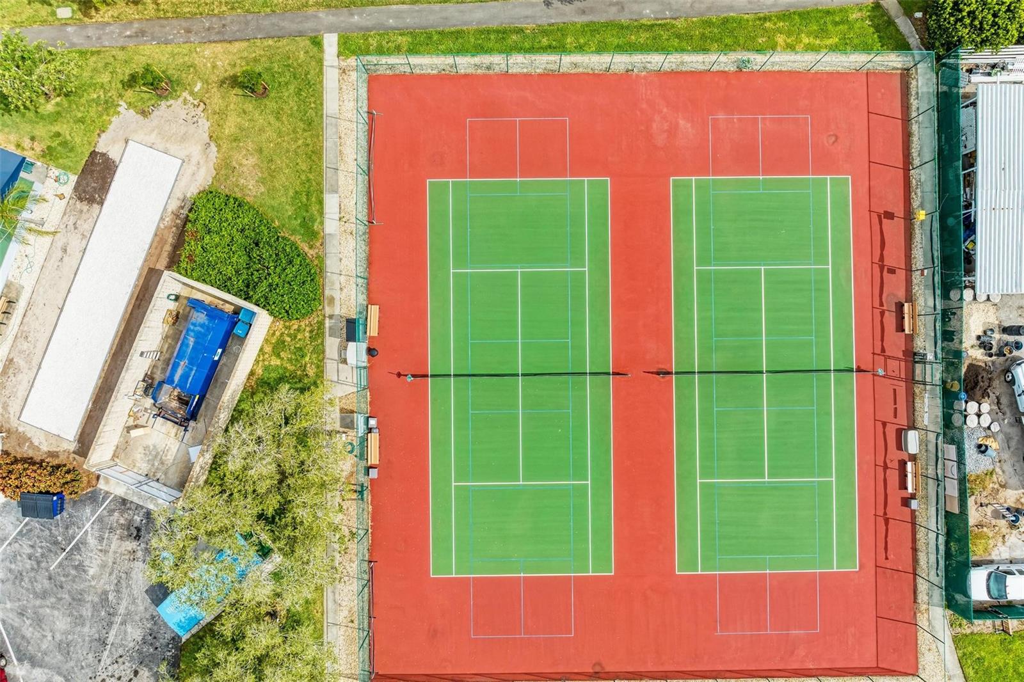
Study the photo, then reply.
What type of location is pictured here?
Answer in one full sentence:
This image shows a sports ground.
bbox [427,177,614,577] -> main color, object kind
green tennis court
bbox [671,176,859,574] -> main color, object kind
green tennis court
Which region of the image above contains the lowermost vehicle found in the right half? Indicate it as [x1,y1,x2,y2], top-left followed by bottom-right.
[973,562,1024,606]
